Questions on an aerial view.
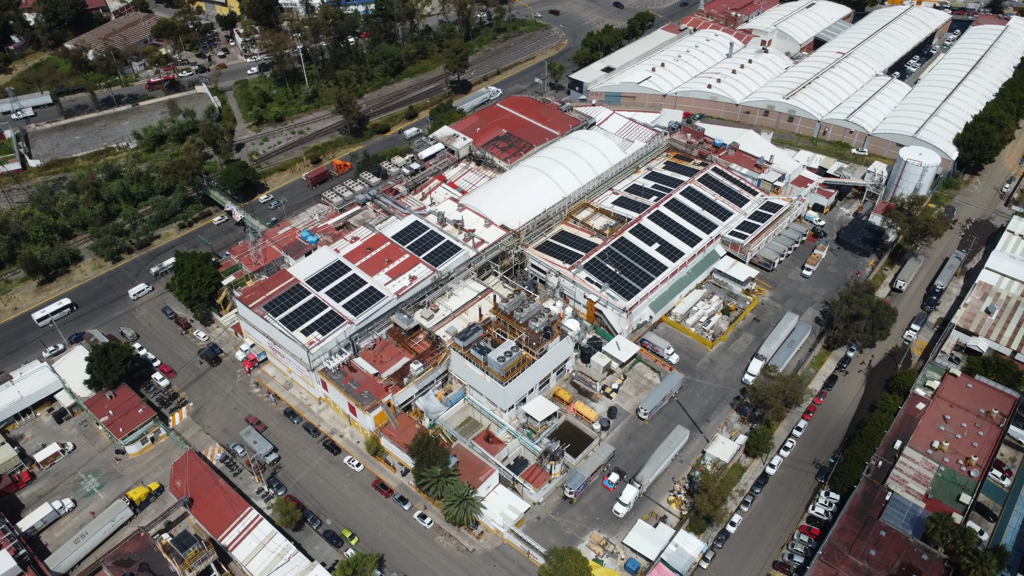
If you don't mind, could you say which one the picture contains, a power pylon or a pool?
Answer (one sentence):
The image shows a power pylon.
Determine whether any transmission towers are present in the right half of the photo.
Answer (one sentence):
No, there is no transmission tower in the right half of the photo.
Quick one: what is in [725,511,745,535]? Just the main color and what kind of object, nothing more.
white car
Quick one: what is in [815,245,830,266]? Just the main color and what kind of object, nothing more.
white vehicle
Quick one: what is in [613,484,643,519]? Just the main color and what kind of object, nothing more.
white truck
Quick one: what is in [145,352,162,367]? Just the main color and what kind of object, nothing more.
white car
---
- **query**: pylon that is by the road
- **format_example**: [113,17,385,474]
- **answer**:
[237,212,267,267]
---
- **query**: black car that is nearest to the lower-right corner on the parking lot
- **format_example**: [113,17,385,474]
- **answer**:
[970,501,1003,524]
